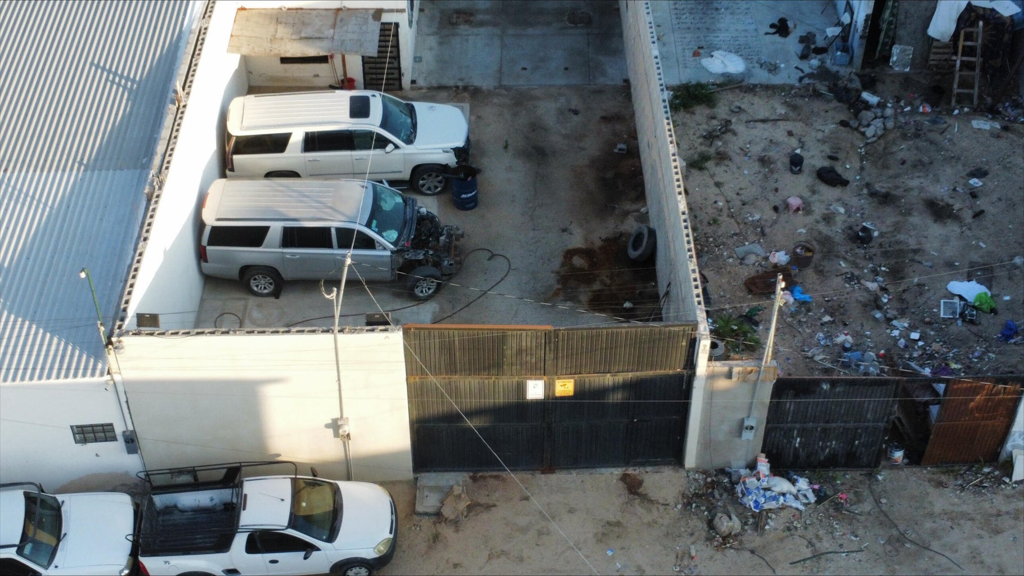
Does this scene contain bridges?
No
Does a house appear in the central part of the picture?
No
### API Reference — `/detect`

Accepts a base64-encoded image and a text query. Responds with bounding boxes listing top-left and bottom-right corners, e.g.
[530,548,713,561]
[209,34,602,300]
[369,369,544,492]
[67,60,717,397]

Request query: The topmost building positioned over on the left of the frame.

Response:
[228,0,419,95]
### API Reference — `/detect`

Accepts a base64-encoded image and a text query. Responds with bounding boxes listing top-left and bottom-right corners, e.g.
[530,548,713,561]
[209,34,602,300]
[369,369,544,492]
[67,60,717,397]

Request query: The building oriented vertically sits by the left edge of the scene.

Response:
[0,0,208,482]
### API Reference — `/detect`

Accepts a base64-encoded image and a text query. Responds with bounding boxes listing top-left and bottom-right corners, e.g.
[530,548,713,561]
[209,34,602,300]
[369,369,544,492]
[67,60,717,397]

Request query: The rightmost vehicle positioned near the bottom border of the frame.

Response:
[121,460,405,576]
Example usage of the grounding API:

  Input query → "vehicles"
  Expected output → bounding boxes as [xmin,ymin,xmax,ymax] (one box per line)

[229,89,472,197]
[0,478,140,576]
[121,460,405,576]
[206,177,480,298]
